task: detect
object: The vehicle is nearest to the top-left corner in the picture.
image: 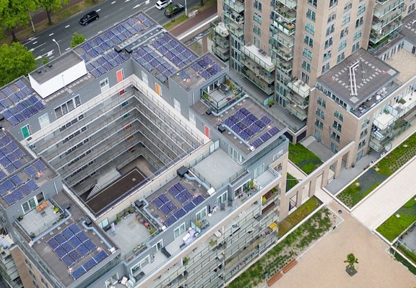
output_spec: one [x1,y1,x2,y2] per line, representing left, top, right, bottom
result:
[77,8,100,25]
